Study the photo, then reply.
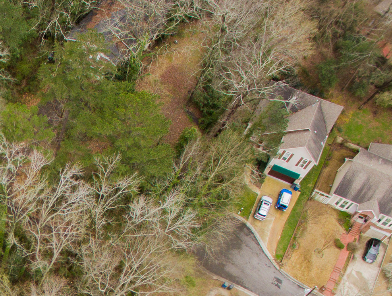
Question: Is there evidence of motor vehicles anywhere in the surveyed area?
Yes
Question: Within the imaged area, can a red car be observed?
No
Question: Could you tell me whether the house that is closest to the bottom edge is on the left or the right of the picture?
right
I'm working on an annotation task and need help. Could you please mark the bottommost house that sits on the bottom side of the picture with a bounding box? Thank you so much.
[306,131,392,235]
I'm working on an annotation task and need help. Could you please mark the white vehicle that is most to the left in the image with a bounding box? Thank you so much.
[255,196,273,219]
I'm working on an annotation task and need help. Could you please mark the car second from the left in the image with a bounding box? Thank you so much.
[276,188,292,211]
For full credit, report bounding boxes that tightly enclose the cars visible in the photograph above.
[364,239,379,262]
[255,196,273,219]
[276,188,292,211]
